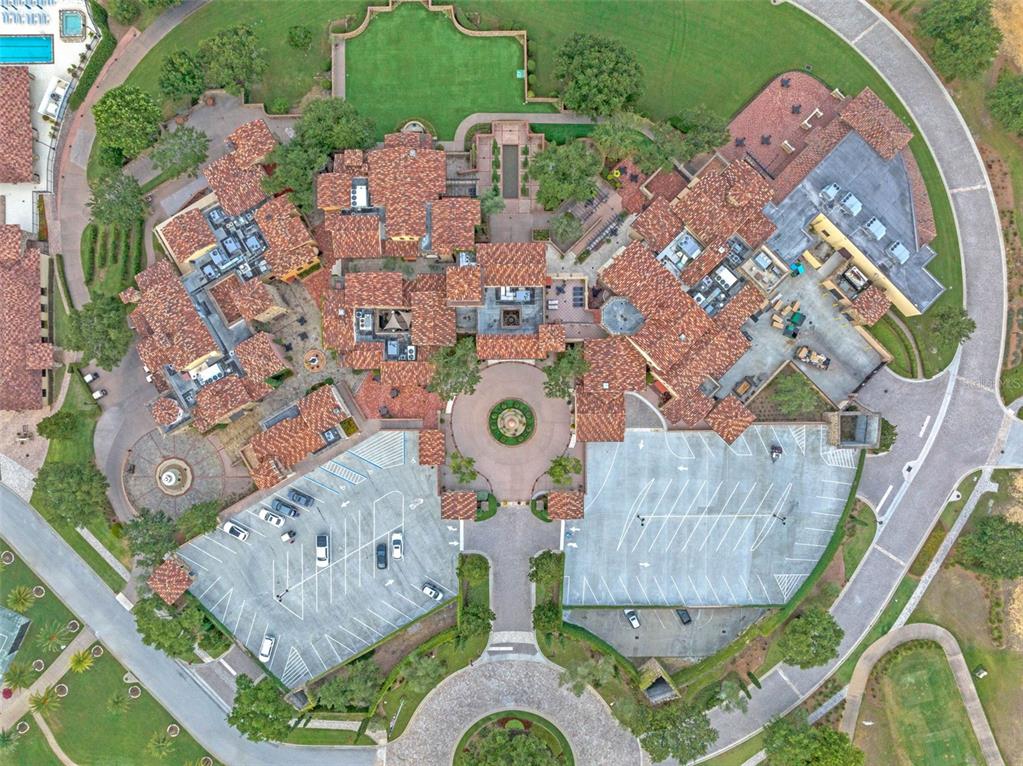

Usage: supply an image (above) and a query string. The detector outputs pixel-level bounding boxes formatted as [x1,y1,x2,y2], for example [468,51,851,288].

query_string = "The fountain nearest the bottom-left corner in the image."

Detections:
[154,458,193,496]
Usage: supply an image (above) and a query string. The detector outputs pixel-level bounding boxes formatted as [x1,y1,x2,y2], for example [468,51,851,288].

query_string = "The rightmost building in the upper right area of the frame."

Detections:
[754,87,947,327]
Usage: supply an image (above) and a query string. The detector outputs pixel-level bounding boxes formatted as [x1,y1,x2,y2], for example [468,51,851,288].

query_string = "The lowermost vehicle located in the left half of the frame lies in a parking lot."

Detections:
[258,635,275,663]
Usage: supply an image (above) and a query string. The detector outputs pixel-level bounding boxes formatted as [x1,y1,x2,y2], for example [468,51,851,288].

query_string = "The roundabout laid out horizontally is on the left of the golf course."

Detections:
[387,658,648,766]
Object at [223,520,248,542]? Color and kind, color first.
white car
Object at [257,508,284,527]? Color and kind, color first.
white car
